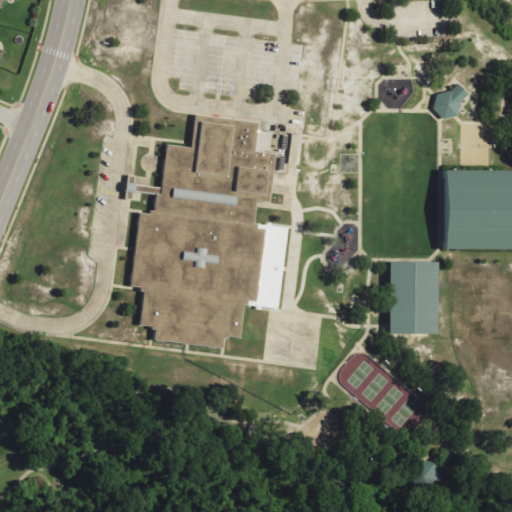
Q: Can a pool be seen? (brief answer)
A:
No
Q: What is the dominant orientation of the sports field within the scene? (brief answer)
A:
vertically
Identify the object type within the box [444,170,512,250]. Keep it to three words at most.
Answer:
building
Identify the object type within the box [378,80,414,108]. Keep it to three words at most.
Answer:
playground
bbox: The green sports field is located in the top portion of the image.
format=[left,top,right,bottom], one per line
[364,114,438,258]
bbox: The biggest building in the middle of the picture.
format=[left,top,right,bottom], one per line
[126,115,277,348]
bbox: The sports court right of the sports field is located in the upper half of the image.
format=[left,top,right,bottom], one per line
[460,122,496,166]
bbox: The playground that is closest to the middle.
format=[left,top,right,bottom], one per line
[326,224,358,266]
